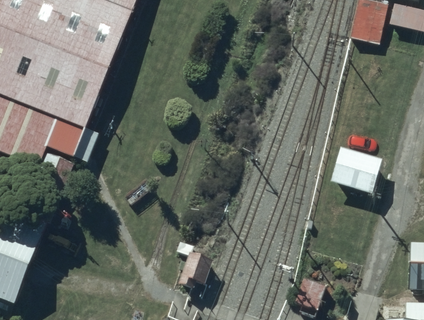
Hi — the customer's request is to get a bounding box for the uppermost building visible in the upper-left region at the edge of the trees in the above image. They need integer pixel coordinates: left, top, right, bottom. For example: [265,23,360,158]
[0,0,136,129]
